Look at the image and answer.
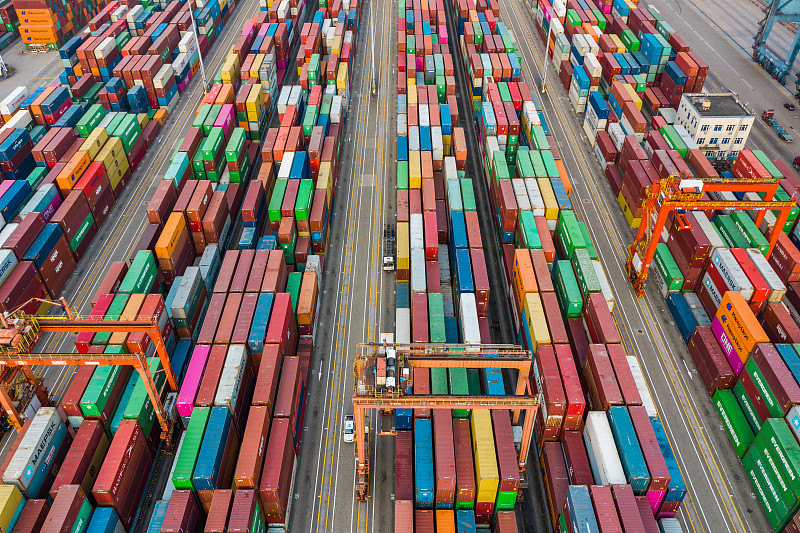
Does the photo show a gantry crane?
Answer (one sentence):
Yes, the photo shows a gantry crane.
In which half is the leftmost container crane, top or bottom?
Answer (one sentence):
The leftmost container crane sits in the bottom half of the picture.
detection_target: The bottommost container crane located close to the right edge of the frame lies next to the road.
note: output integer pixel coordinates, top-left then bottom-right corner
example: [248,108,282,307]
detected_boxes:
[620,175,791,292]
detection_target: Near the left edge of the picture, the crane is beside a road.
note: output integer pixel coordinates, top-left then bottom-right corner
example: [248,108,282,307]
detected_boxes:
[0,299,184,460]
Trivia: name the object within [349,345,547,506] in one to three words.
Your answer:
container crane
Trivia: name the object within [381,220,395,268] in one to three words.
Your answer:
vehicle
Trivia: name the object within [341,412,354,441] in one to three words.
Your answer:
vehicle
